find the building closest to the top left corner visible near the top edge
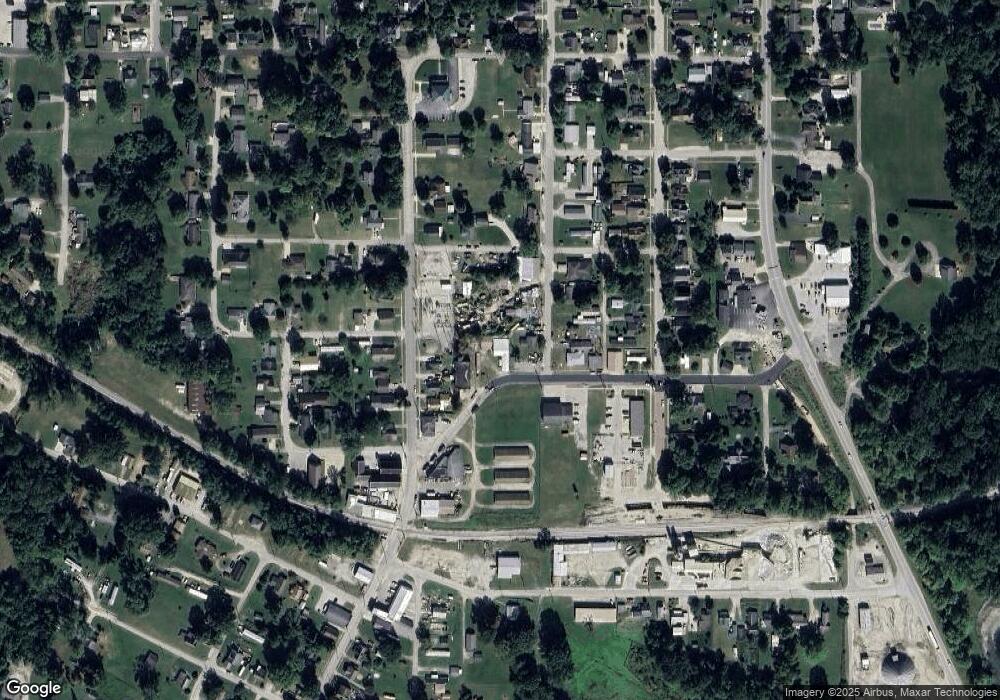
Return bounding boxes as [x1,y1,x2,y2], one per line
[13,17,27,49]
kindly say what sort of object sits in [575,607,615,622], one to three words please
shed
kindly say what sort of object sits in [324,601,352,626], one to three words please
barn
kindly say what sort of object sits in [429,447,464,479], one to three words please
building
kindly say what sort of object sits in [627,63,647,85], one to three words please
house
